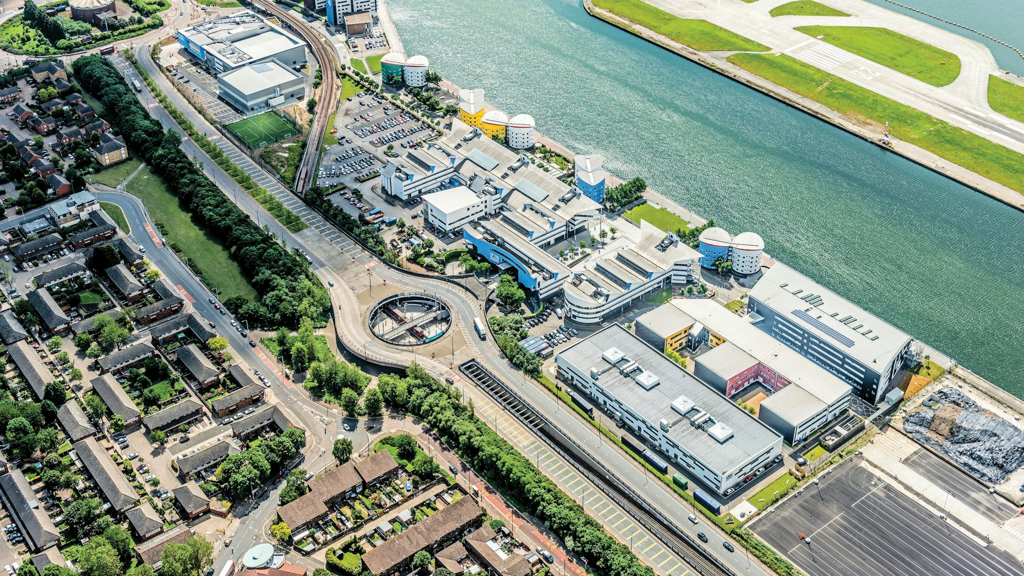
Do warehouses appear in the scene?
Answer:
Yes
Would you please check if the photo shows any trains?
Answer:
Yes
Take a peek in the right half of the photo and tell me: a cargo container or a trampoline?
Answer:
cargo container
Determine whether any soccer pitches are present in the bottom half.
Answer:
No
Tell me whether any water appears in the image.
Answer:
Yes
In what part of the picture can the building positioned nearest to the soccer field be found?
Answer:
top left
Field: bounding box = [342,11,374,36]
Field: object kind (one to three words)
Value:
building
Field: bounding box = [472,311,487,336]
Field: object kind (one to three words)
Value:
vehicle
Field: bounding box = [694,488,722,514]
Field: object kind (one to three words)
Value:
shipping container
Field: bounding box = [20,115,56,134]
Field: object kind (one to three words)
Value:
house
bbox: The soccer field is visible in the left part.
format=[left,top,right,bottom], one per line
[228,110,299,147]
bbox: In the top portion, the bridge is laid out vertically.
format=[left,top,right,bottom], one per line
[248,0,336,190]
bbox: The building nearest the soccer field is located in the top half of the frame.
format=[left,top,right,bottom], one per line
[216,56,305,113]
